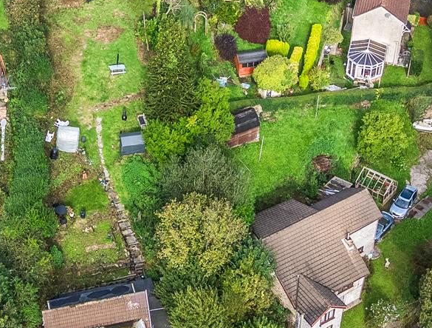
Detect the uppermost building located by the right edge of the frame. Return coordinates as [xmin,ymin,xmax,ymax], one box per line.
[346,0,412,86]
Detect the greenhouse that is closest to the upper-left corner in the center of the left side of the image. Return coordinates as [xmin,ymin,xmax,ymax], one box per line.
[57,121,84,152]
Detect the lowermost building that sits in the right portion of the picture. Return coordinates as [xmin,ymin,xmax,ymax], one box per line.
[242,181,384,328]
